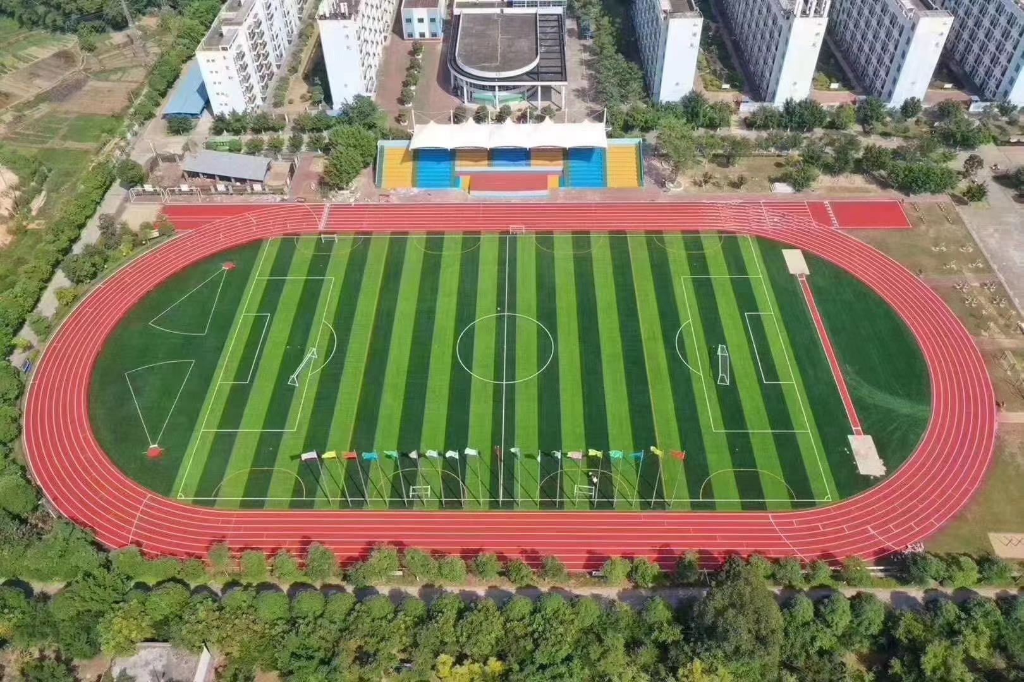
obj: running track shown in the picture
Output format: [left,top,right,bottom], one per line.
[24,200,994,570]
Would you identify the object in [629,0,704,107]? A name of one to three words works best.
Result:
building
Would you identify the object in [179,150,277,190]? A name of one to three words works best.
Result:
shed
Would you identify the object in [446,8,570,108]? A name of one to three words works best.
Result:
building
